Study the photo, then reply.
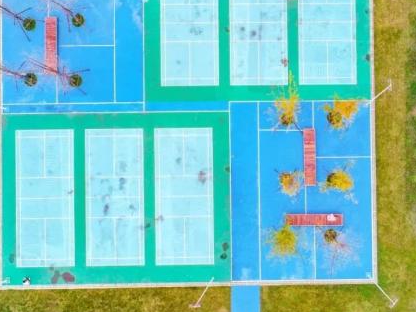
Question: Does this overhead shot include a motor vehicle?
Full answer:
No, the frame has no motor vehicle in it.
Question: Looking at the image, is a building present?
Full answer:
No, there is no building in the image.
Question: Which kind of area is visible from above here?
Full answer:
This image shows a sports ground.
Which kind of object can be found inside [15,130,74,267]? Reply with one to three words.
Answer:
sports court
